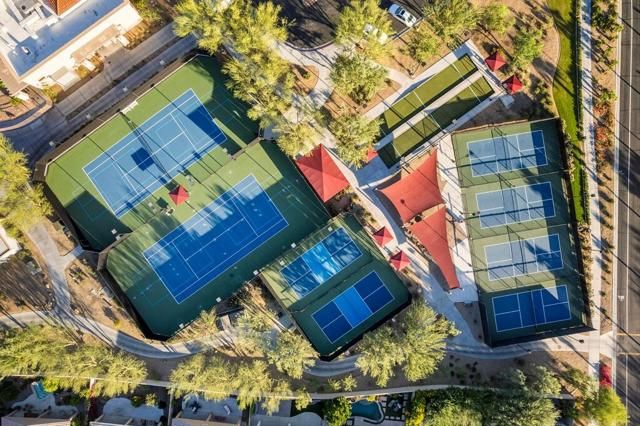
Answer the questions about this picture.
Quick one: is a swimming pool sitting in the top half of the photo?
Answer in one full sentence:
No, the scene shows no swimming pool in the top half of the photo.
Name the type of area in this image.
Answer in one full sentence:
This looks like a sports ground.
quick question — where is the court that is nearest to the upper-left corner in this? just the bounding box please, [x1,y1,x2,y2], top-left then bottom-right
[46,56,262,251]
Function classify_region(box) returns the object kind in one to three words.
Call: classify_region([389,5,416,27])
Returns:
car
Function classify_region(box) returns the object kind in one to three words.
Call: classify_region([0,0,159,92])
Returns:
building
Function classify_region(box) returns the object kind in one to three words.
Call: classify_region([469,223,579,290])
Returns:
sports court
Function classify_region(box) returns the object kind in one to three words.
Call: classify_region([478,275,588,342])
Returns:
sports court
